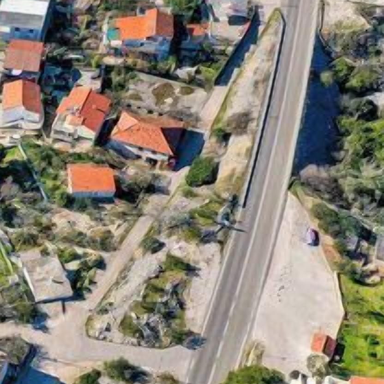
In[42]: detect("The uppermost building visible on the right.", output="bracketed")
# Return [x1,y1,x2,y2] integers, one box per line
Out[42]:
[210,0,253,26]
